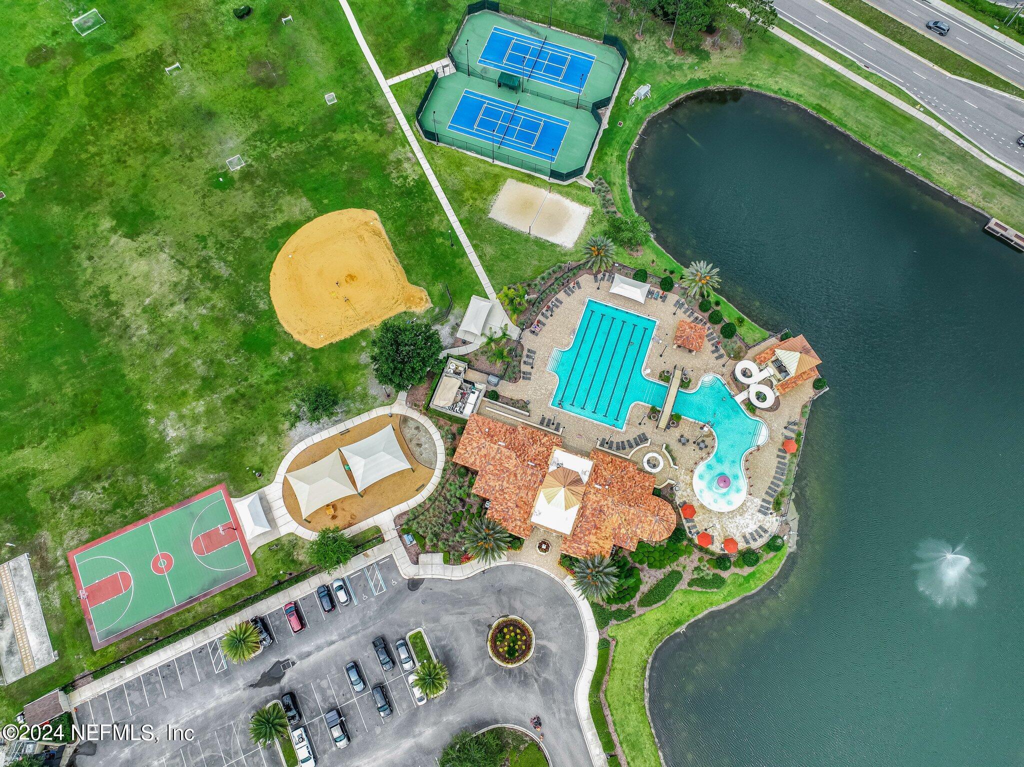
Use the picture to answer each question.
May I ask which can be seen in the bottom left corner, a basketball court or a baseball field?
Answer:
basketball court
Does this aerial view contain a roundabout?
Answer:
Yes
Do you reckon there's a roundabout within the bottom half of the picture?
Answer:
Yes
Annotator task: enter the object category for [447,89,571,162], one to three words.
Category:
tennis court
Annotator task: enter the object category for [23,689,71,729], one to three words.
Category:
shed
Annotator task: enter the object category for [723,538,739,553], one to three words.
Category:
umbrella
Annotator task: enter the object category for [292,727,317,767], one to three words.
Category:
truck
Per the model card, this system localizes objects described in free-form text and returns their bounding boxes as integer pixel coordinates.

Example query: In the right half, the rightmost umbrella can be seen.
[782,440,797,454]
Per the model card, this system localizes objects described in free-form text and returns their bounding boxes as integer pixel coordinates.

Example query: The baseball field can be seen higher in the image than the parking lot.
[270,207,433,349]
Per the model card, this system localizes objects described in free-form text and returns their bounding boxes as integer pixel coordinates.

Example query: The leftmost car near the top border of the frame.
[926,22,950,36]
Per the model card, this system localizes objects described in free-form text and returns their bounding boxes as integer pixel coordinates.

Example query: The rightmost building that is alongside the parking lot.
[453,414,677,563]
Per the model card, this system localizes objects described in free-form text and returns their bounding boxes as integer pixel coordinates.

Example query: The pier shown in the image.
[983,216,1024,253]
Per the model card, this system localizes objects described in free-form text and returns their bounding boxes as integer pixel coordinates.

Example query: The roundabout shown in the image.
[486,613,537,670]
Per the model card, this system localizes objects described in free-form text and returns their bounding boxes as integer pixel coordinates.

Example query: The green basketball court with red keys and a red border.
[67,483,256,650]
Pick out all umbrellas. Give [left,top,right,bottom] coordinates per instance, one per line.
[697,532,712,548]
[723,538,739,553]
[782,440,797,454]
[680,505,696,519]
